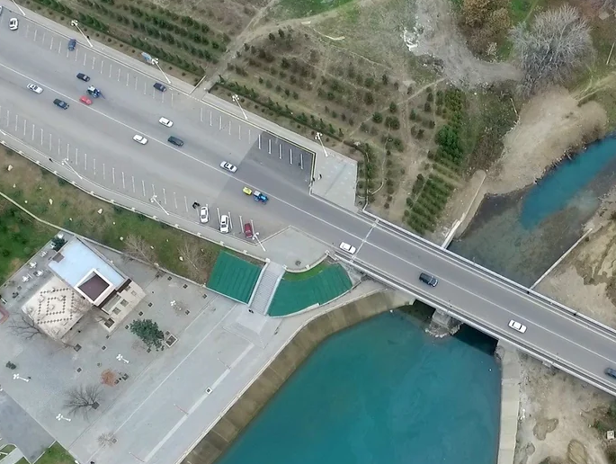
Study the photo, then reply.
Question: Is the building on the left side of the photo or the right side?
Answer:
left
